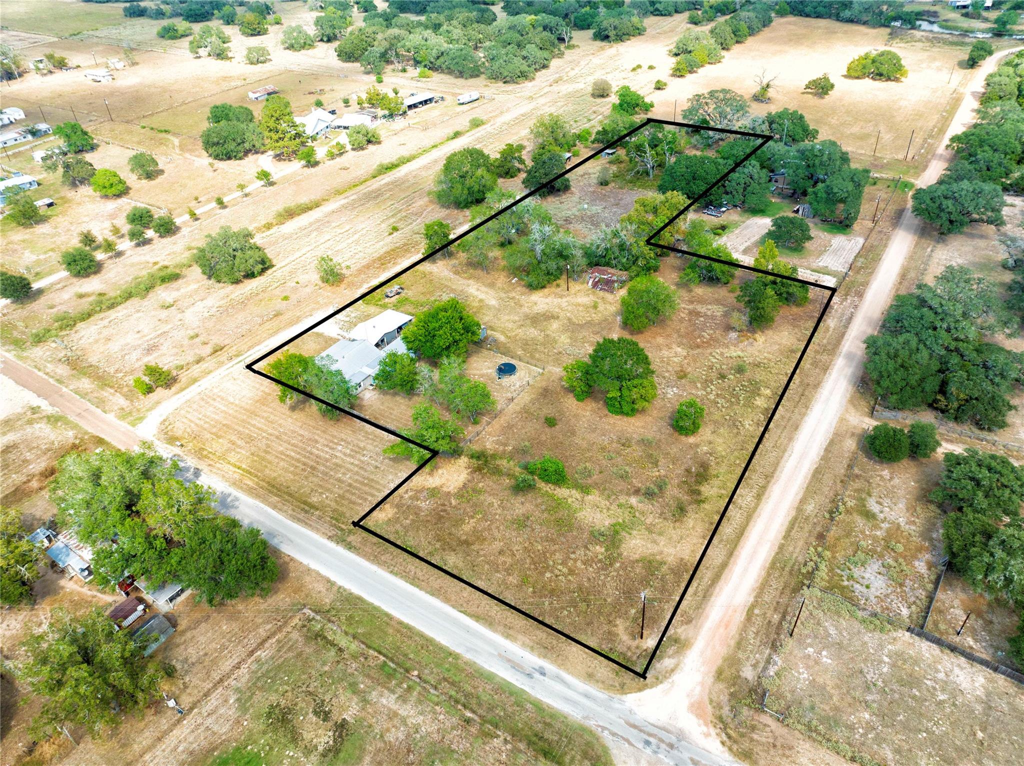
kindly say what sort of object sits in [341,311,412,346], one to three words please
building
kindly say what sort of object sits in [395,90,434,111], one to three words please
building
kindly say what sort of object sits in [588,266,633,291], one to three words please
shed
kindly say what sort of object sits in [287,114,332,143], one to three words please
house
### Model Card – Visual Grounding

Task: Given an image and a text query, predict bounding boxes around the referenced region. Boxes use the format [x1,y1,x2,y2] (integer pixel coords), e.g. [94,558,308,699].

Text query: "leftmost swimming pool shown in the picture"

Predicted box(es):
[495,359,517,376]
